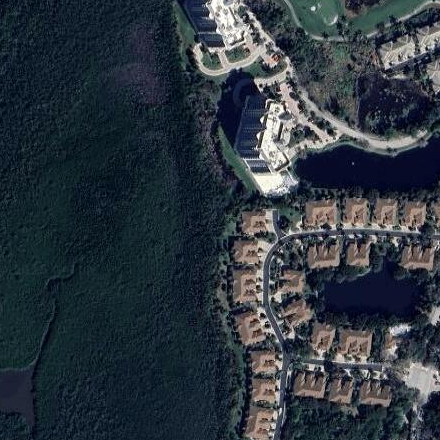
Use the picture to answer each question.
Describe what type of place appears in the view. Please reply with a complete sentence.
This image shows a residential area.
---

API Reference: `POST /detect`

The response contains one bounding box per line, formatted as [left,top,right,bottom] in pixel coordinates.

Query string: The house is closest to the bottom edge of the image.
[242,406,274,440]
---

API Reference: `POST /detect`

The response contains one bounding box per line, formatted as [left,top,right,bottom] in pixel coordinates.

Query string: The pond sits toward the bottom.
[318,259,423,319]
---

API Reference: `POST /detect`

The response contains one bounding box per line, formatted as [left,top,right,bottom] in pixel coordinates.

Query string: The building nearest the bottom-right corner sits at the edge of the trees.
[357,380,392,409]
